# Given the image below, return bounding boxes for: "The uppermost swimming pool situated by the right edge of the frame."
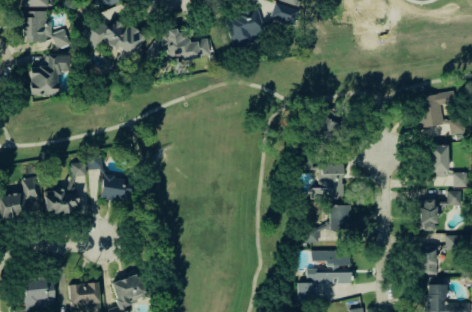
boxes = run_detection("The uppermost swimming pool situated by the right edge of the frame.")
[448,212,463,229]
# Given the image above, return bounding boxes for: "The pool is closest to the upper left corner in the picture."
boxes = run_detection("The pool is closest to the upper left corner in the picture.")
[52,14,66,28]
